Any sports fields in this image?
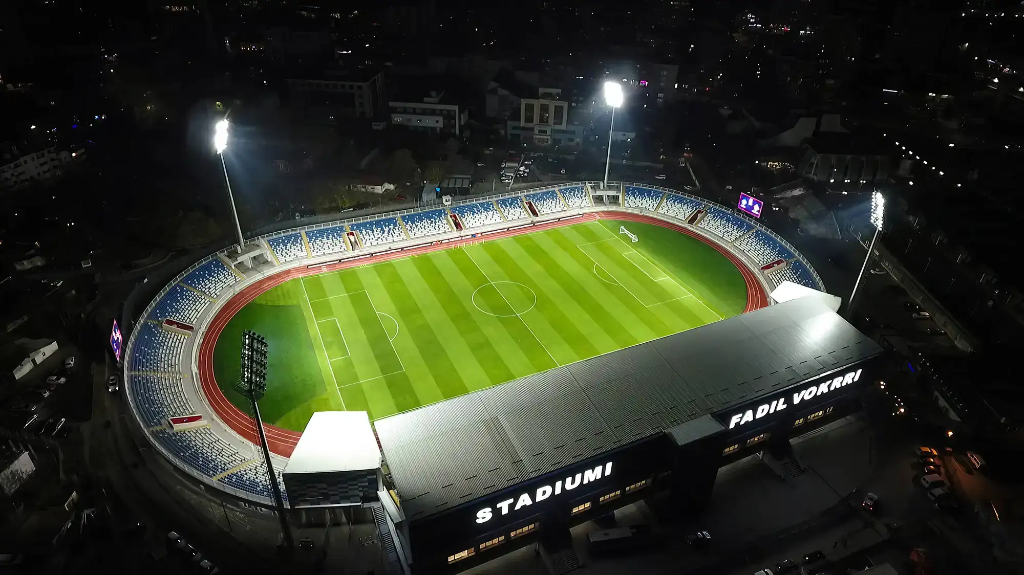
Yes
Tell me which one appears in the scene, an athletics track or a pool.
athletics track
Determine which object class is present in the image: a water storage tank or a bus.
bus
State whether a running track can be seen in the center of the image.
Yes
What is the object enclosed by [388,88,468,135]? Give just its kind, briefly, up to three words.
building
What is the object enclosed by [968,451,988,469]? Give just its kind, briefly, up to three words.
car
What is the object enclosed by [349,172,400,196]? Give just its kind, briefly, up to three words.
house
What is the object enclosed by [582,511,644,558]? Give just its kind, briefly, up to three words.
bus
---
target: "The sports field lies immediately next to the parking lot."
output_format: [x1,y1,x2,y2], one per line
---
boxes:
[297,219,730,428]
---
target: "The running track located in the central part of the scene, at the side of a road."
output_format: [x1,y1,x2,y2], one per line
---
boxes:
[197,211,771,455]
